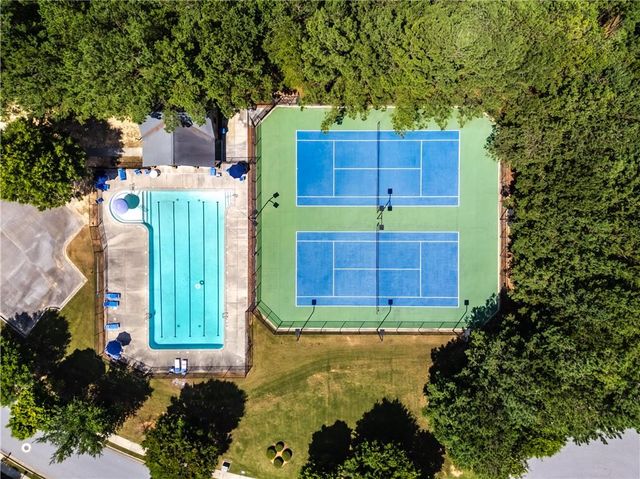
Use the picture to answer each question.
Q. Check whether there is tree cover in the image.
Yes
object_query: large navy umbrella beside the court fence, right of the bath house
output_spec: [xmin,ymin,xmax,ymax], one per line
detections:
[228,161,248,180]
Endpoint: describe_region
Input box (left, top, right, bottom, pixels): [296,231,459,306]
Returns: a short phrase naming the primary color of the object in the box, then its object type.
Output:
blue tennis court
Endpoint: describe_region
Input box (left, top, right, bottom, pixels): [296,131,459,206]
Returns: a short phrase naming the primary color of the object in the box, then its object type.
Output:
blue tennis court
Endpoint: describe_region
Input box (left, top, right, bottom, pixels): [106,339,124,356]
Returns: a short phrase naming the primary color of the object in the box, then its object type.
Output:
blue umbrella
